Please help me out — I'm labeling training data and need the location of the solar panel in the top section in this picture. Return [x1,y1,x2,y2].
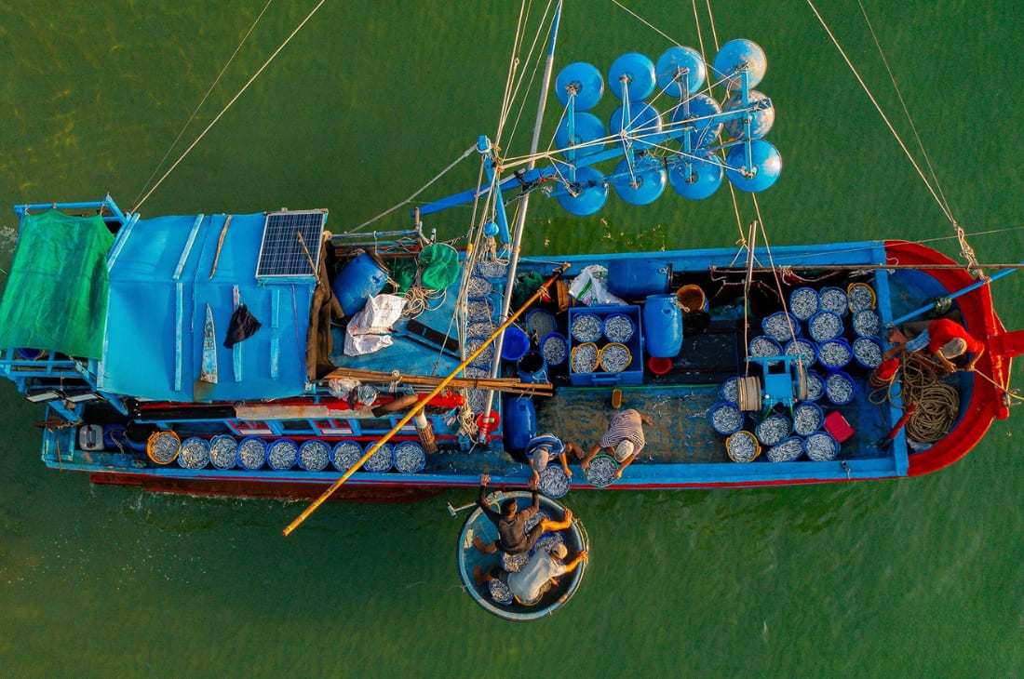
[256,208,327,287]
